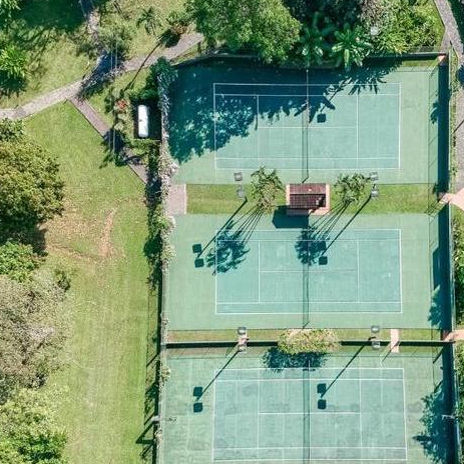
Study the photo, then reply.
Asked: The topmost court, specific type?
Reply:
tennis court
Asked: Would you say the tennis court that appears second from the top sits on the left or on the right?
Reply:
right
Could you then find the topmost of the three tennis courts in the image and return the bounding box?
[168,56,442,184]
